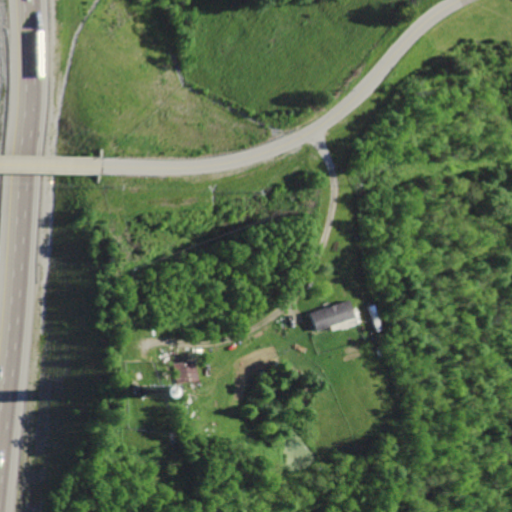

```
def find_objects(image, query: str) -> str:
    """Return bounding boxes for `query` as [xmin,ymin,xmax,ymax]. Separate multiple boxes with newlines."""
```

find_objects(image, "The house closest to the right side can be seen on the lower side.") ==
[310,302,364,332]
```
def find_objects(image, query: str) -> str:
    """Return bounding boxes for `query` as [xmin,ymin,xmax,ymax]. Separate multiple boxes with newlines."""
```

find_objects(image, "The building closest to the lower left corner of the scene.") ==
[175,364,200,384]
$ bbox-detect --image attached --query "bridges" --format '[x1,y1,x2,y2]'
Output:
[0,149,102,183]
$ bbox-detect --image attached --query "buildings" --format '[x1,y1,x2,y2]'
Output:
[175,364,200,384]
[310,302,364,332]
